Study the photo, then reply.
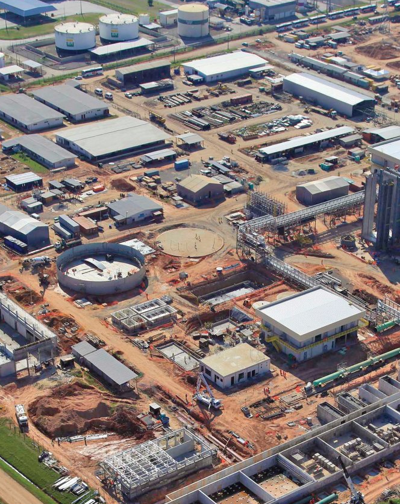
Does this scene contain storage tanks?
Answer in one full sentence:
Yes, looking at the shot, I can spot a storage tank.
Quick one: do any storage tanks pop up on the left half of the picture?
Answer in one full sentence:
Yes, a storage tank is visible on the left half of the picture.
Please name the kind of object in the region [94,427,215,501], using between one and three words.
building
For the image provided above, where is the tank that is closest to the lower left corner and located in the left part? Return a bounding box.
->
[55,243,146,295]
